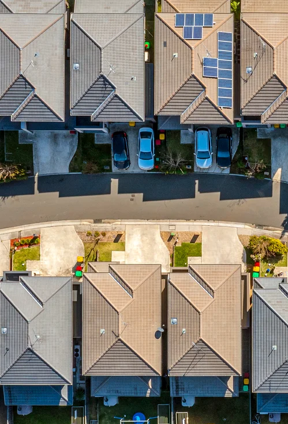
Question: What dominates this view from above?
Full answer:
The bulk of the photo consists of buildings.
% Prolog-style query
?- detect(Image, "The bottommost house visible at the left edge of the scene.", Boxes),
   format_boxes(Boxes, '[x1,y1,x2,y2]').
[0,268,81,406]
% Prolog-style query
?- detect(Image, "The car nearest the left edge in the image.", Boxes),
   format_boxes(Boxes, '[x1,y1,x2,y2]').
[112,133,130,170]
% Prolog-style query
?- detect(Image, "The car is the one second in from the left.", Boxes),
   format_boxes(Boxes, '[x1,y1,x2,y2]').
[137,128,154,168]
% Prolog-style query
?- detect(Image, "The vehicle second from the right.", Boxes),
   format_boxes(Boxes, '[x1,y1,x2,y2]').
[194,127,213,168]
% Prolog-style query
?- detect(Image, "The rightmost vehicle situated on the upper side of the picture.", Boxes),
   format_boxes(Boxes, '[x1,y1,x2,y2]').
[215,127,233,168]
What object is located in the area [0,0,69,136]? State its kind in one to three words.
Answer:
house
